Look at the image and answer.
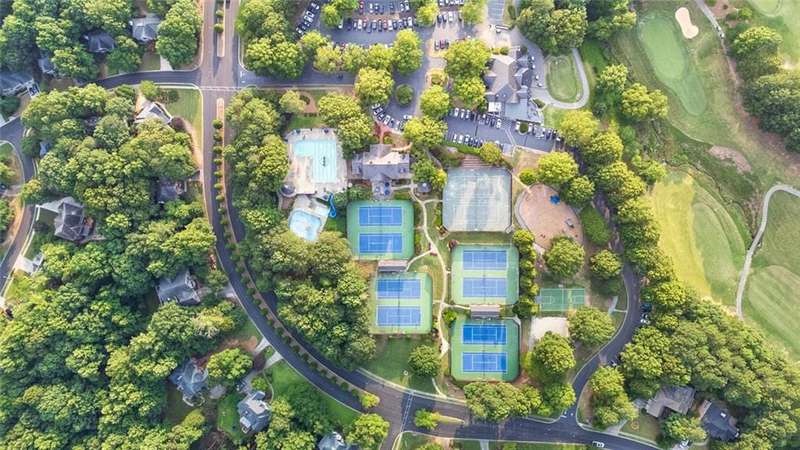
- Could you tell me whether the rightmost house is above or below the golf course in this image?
below it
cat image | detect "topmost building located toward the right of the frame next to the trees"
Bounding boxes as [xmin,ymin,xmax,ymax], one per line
[481,52,535,121]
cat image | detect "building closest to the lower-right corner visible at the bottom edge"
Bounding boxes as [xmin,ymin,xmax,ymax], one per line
[692,399,738,440]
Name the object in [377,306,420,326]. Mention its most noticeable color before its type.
blue tennis court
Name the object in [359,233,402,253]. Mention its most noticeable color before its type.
blue tennis court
